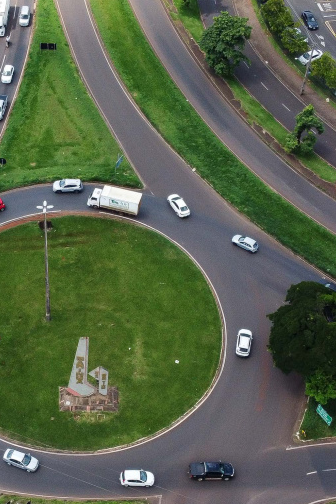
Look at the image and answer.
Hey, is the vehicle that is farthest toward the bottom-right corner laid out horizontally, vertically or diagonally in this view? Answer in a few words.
horizontally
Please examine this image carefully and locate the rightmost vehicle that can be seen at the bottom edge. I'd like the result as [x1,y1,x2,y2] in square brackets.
[190,461,235,482]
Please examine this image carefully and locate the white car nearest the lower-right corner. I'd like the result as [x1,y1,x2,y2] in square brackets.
[237,329,253,358]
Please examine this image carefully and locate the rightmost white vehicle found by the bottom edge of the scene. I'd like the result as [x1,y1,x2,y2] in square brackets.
[120,468,155,488]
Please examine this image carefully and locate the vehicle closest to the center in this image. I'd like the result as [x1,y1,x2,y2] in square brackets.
[166,197,191,218]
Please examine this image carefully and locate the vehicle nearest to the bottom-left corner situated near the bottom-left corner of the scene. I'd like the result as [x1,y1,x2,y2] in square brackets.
[2,449,40,472]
